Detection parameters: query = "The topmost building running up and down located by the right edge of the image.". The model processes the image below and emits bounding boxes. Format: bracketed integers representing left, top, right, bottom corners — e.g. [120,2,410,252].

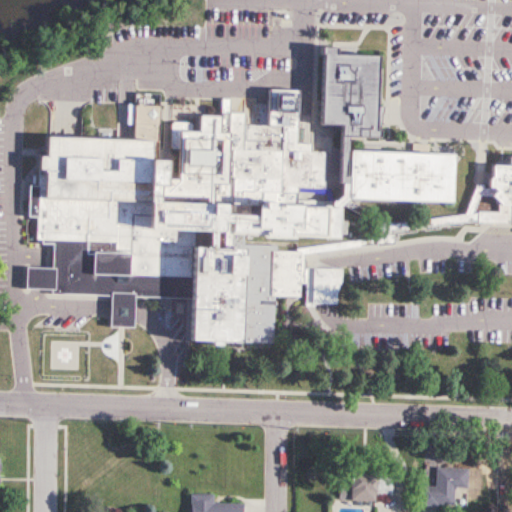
[476,157,512,226]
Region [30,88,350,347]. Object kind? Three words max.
building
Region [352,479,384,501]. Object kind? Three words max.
house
